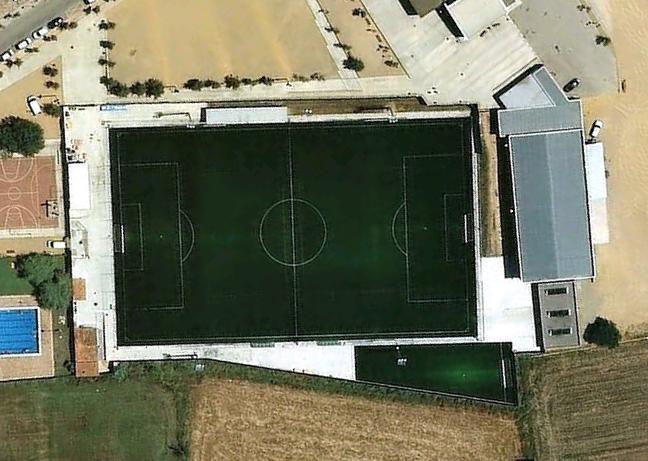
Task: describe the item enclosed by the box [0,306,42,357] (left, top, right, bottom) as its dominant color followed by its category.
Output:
blue swimming pool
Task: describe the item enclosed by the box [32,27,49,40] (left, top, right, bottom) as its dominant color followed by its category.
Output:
white vehicle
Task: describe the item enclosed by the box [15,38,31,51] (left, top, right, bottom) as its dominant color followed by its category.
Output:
white vehicle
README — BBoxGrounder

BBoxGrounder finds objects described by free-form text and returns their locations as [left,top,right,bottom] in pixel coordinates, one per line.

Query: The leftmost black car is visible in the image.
[47,17,63,30]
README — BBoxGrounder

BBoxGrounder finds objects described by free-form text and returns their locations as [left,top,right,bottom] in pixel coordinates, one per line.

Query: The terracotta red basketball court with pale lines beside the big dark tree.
[0,156,61,229]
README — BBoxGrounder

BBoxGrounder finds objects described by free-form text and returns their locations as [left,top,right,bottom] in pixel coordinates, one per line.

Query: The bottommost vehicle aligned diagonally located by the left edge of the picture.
[27,96,43,115]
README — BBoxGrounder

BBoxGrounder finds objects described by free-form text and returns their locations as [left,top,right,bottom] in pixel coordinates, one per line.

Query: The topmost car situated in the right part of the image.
[564,79,580,92]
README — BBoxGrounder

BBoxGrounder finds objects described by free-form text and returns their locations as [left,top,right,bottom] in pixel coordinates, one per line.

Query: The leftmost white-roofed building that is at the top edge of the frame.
[444,0,508,39]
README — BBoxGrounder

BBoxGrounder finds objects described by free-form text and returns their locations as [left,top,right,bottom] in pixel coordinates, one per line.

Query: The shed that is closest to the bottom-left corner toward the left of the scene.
[75,325,98,377]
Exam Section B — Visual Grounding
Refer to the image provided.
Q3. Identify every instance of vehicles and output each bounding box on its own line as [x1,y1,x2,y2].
[564,79,580,92]
[27,96,43,115]
[47,17,63,30]
[591,121,602,137]
[48,240,66,249]
[15,38,31,51]
[32,27,49,40]
[0,49,14,62]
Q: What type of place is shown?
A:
sports ground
